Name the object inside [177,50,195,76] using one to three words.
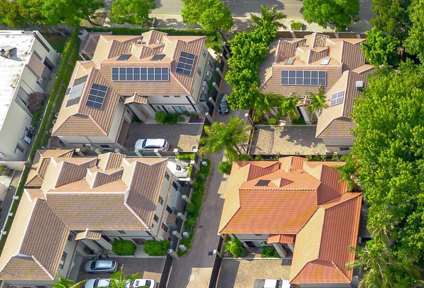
solar panel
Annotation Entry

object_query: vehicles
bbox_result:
[250,276,294,288]
[135,136,169,151]
[215,92,230,118]
[83,258,120,275]
[124,276,163,288]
